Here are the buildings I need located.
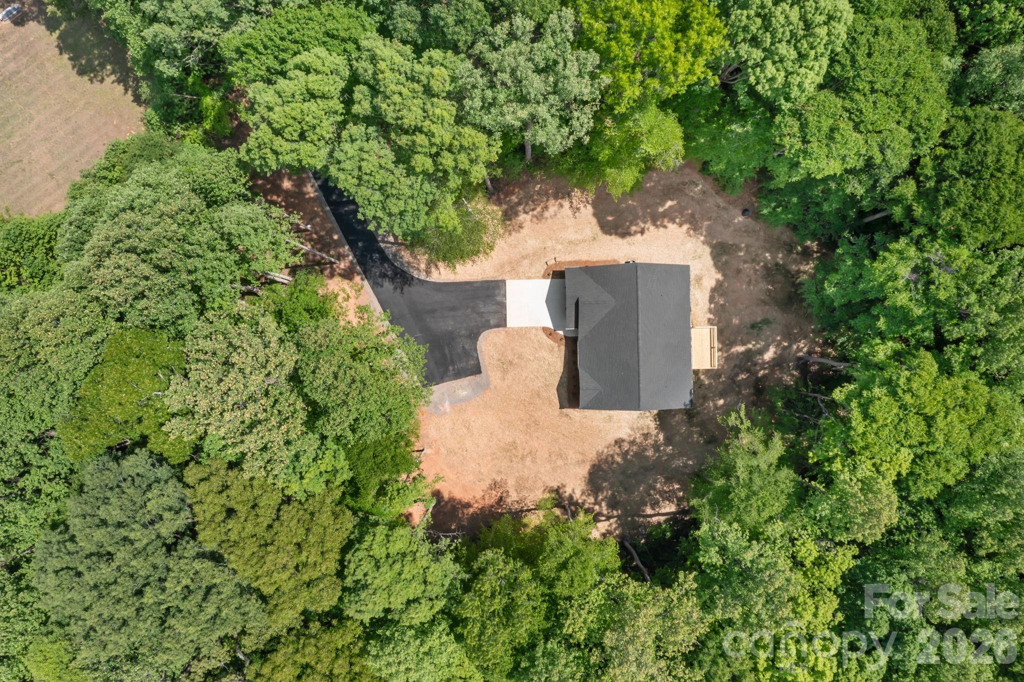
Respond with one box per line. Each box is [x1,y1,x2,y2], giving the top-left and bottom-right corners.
[563,263,693,411]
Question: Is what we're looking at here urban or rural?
rural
